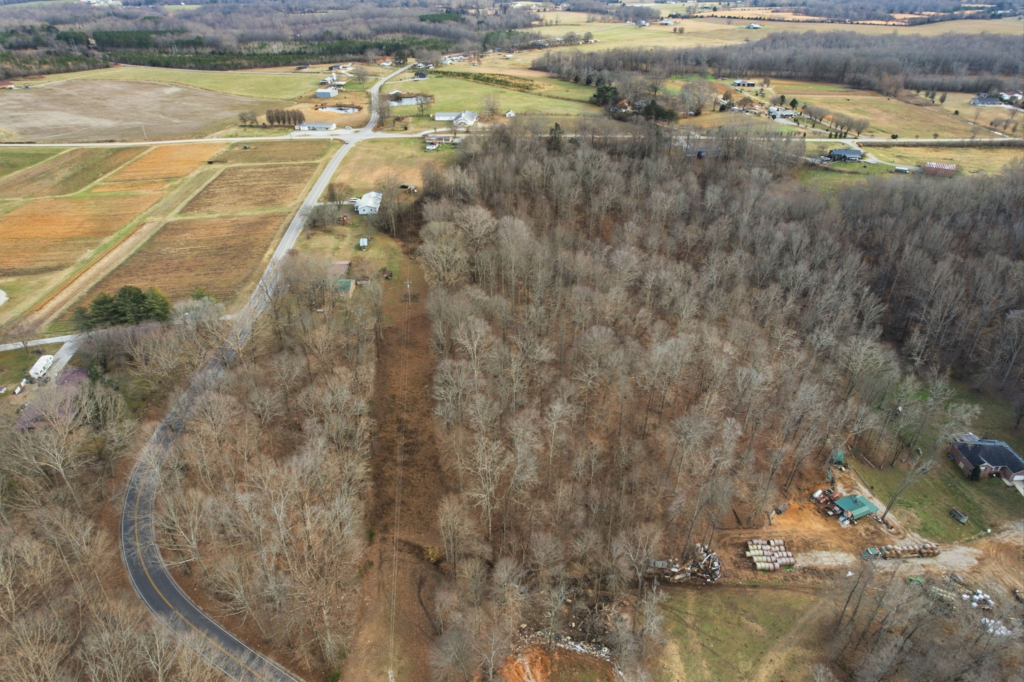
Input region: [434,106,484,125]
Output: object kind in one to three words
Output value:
building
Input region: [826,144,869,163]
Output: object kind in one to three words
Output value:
house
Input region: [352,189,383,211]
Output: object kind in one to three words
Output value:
house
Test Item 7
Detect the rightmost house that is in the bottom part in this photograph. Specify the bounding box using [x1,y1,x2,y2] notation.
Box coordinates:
[948,435,1024,484]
